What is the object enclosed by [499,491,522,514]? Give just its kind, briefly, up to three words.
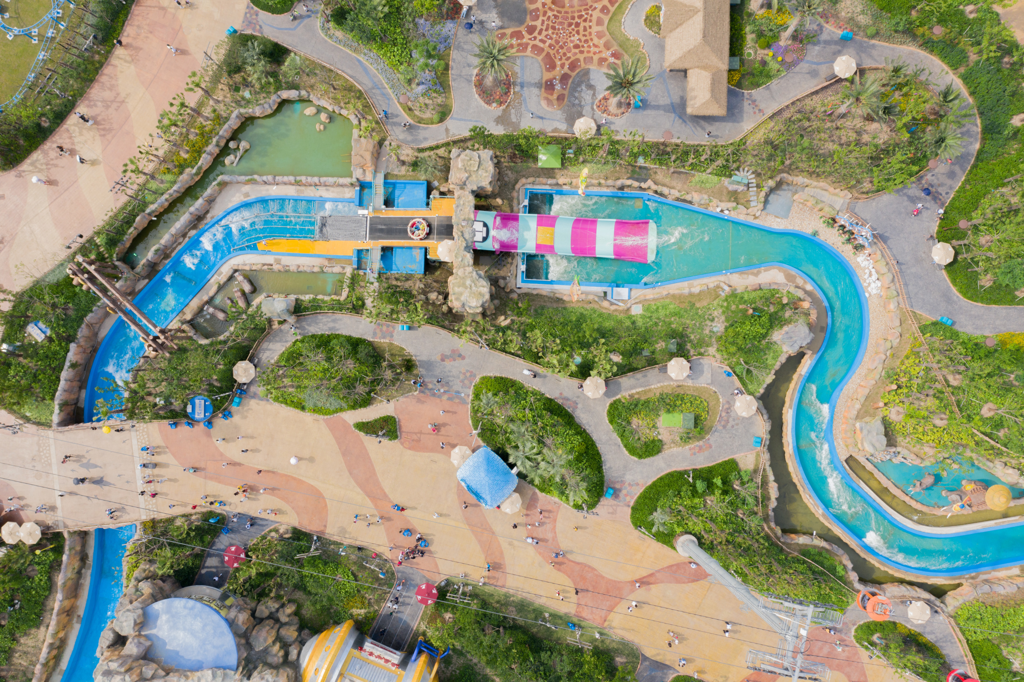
umbrella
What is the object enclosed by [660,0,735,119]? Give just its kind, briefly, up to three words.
shed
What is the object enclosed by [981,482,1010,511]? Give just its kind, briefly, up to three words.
umbrella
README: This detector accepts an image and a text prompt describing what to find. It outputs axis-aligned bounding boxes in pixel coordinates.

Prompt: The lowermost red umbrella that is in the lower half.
[415,581,438,605]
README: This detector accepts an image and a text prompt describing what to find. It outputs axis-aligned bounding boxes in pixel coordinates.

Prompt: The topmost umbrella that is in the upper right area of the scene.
[832,56,855,79]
